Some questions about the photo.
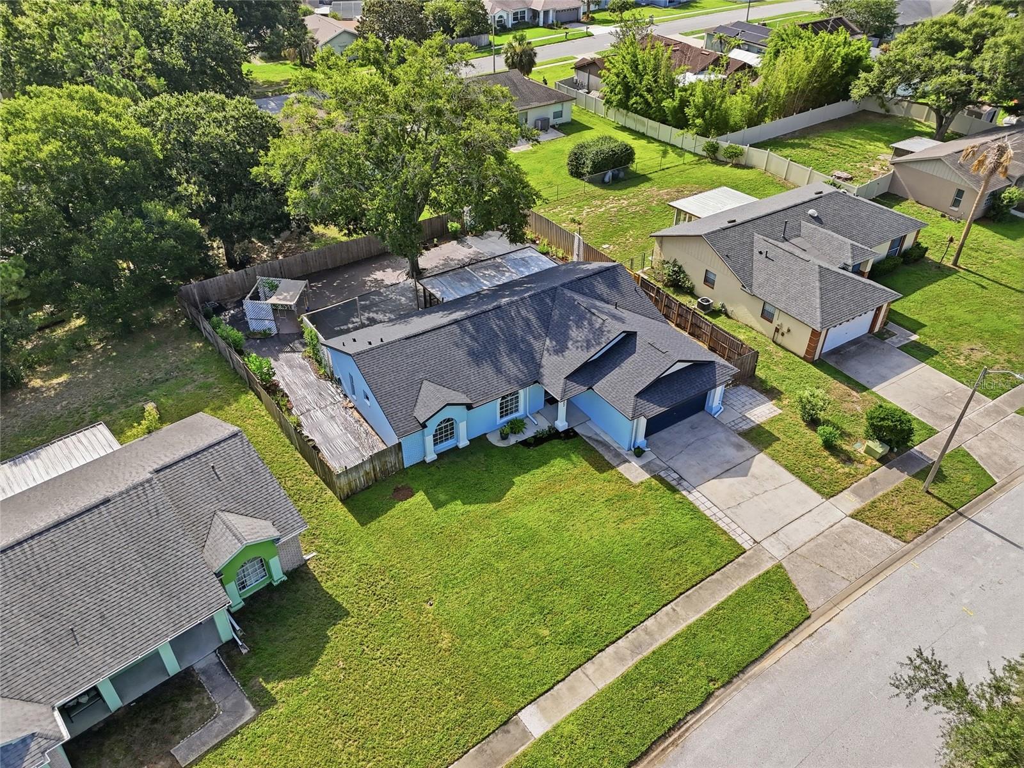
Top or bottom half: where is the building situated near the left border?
bottom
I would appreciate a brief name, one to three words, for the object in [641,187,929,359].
house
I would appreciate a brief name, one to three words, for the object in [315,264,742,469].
house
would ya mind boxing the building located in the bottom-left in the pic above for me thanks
[0,412,317,768]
